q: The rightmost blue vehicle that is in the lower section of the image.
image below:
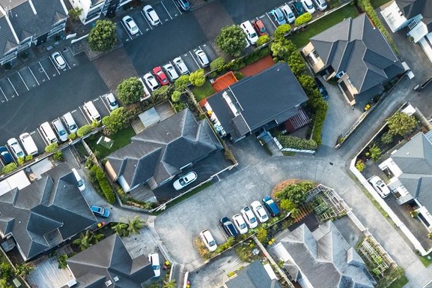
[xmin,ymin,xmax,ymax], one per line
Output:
[262,194,280,218]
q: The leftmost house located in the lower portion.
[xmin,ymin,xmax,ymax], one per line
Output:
[0,171,97,260]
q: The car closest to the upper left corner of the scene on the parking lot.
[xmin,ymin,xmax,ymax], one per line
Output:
[49,49,68,74]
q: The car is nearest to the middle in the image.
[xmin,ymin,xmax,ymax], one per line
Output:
[172,172,198,191]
